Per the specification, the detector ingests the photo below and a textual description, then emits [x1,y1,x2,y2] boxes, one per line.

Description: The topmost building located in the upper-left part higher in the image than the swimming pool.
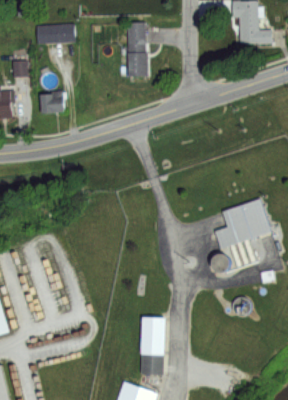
[38,24,77,45]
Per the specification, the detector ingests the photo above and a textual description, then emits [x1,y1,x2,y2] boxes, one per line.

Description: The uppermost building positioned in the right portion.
[234,0,274,46]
